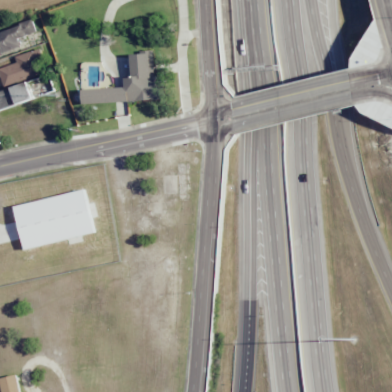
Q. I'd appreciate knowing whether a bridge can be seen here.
Yes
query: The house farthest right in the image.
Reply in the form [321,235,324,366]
[79,54,154,105]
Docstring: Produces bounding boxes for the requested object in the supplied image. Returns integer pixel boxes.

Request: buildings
[0,78,58,112]
[0,376,22,392]
[12,190,99,250]
[79,54,154,105]
[0,50,38,88]
[0,20,38,53]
